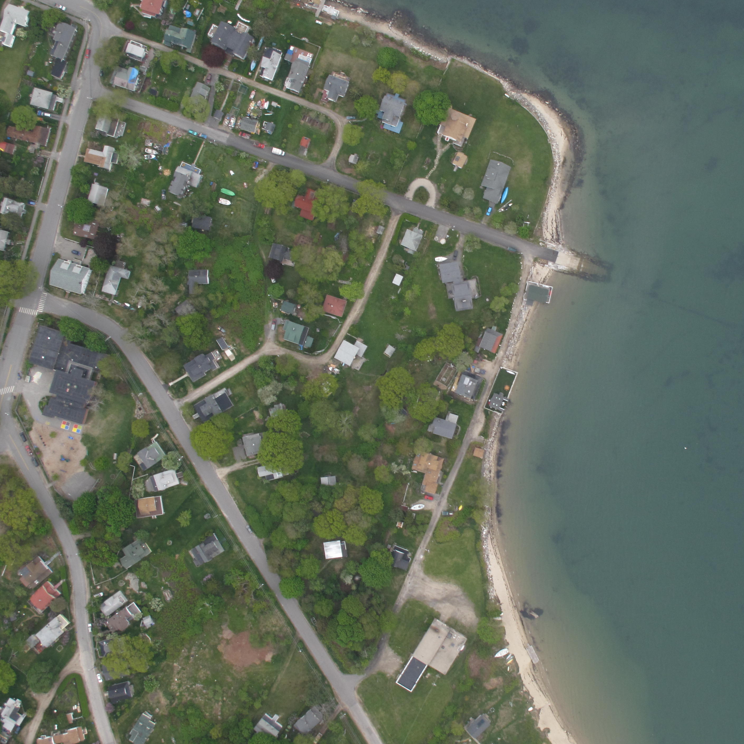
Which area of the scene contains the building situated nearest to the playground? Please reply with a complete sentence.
You can find the building situated nearest to the playground in the left area of the picture.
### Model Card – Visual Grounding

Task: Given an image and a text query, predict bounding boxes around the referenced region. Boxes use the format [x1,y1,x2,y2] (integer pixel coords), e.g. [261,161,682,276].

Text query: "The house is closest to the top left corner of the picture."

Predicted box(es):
[0,5,34,49]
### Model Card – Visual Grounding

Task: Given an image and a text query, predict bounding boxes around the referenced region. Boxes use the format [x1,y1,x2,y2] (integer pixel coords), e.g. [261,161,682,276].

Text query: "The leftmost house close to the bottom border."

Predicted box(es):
[0,695,26,742]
